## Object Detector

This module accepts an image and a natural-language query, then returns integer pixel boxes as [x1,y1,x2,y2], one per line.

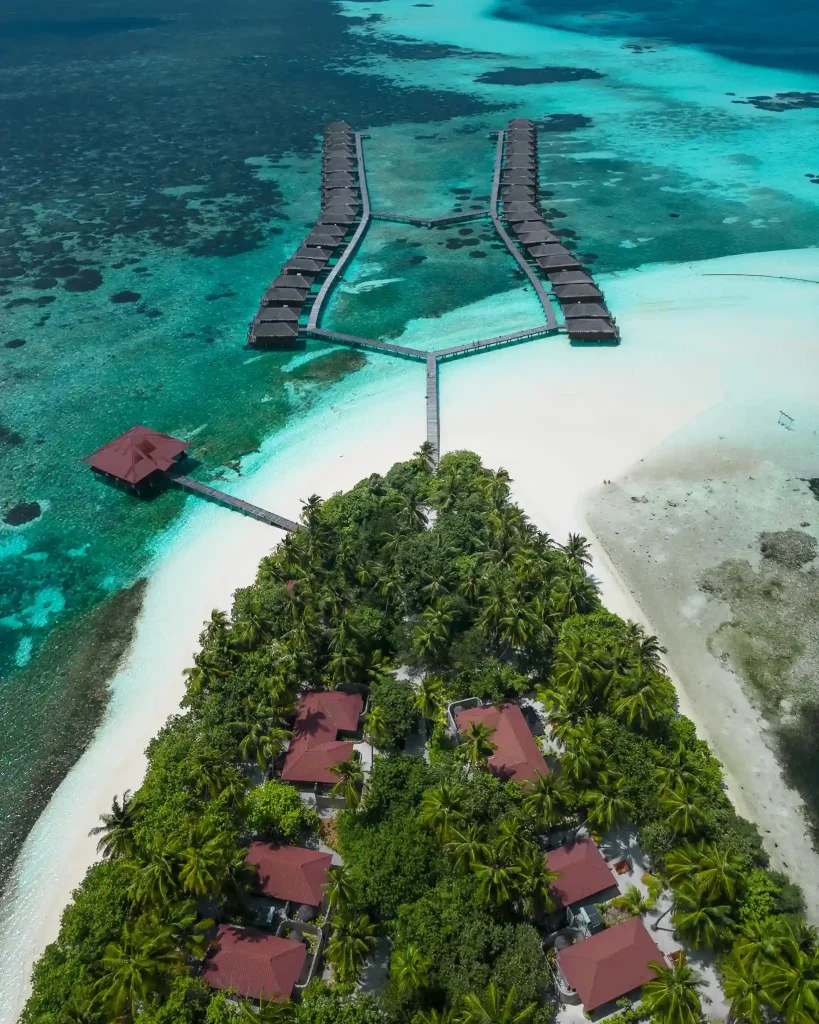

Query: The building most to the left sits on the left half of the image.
[79,429,192,498]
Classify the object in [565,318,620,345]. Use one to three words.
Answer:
house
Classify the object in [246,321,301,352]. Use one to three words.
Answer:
house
